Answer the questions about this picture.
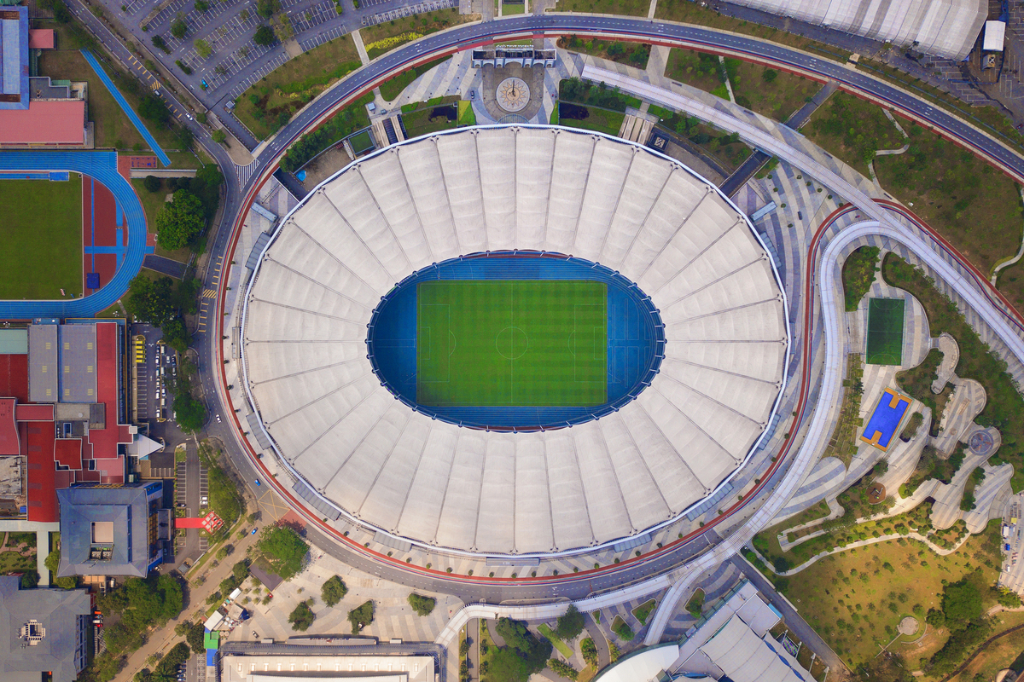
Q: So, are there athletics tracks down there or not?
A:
Yes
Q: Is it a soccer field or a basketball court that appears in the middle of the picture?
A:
soccer field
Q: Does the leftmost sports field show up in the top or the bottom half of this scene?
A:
top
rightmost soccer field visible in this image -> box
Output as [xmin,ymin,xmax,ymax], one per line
[867,294,910,367]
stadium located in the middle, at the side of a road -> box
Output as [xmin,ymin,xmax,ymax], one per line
[241,123,790,558]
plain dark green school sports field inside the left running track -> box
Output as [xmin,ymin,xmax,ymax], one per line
[0,172,82,300]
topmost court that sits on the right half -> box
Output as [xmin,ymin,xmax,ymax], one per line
[862,386,916,454]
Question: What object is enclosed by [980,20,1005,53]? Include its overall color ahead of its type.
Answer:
white tent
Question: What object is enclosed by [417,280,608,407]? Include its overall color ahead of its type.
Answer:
green soccer field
